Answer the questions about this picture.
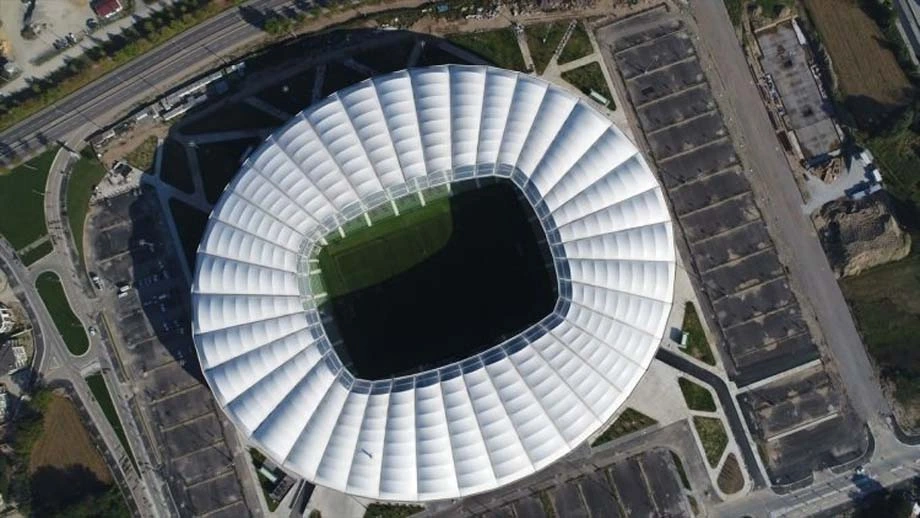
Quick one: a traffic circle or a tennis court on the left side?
traffic circle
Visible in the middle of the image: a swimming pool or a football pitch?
football pitch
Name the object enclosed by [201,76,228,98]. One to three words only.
shed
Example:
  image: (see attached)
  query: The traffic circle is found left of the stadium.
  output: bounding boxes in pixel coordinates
[28,264,99,362]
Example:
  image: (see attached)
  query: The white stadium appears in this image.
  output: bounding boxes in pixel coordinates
[191,64,675,502]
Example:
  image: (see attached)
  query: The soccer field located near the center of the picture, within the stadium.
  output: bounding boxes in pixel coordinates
[328,190,548,367]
